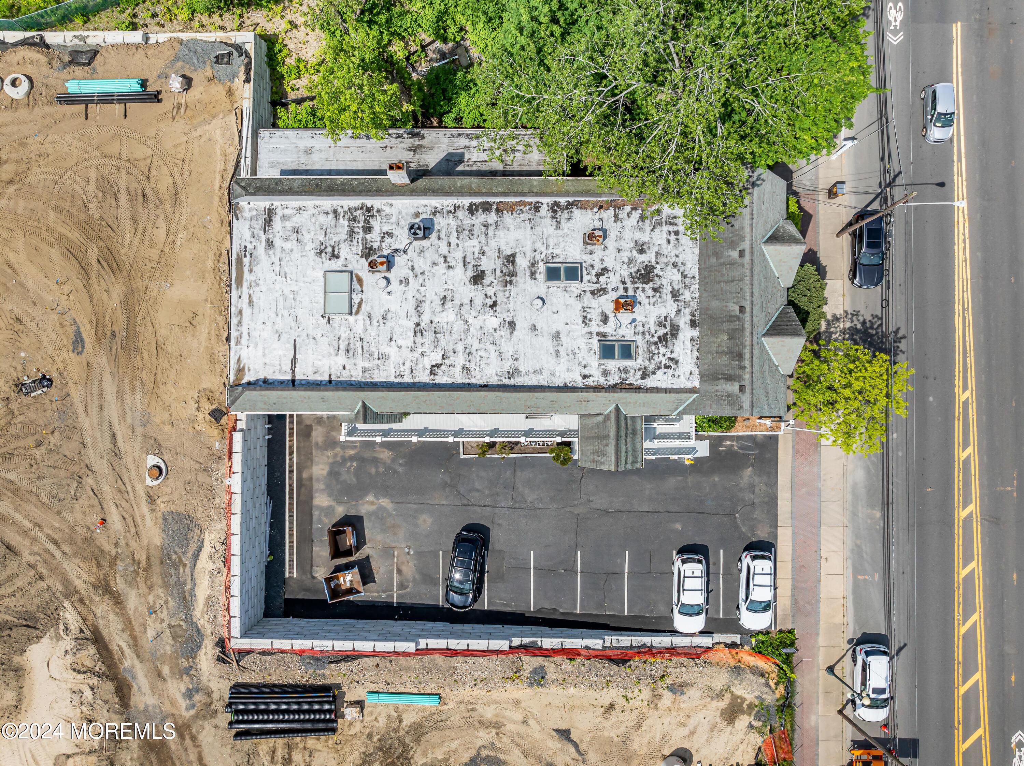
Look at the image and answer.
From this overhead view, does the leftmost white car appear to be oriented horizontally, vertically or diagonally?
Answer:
vertically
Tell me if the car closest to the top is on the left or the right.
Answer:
right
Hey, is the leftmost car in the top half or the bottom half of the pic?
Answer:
bottom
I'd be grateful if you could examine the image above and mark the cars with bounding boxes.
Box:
[734,547,778,630]
[915,80,960,147]
[670,549,711,632]
[441,529,485,613]
[846,639,895,723]
[843,211,889,291]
